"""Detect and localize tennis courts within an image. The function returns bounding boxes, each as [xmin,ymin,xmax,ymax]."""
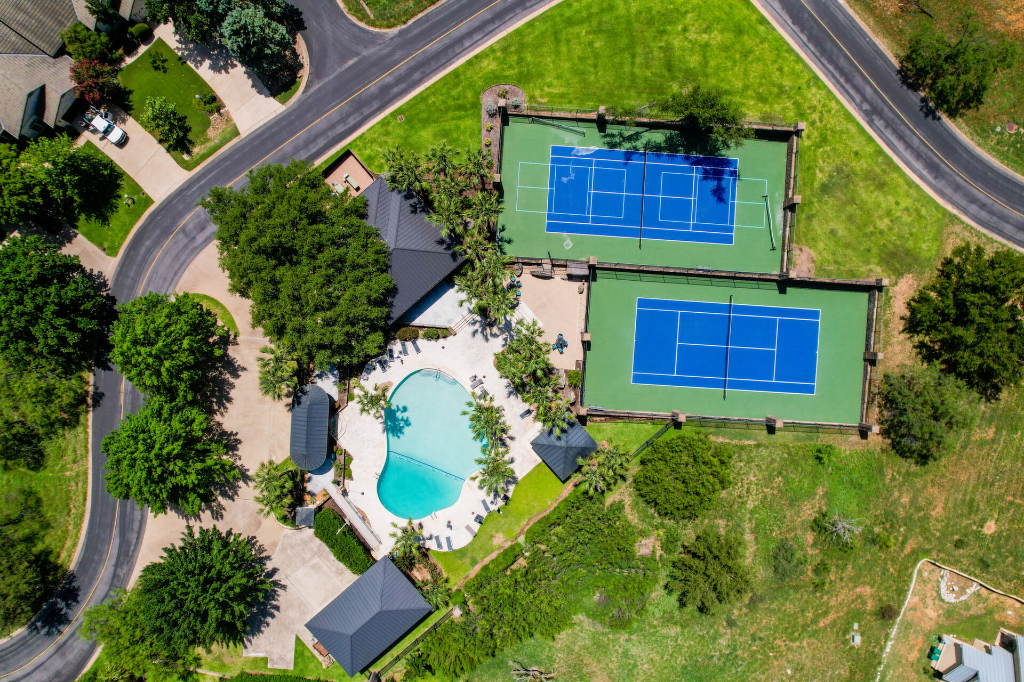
[583,267,870,425]
[498,114,788,275]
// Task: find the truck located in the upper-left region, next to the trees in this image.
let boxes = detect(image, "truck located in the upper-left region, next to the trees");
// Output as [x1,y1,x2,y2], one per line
[79,106,129,146]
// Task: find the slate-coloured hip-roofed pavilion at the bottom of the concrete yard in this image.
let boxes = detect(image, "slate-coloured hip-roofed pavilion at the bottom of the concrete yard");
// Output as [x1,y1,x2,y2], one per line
[305,555,433,678]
